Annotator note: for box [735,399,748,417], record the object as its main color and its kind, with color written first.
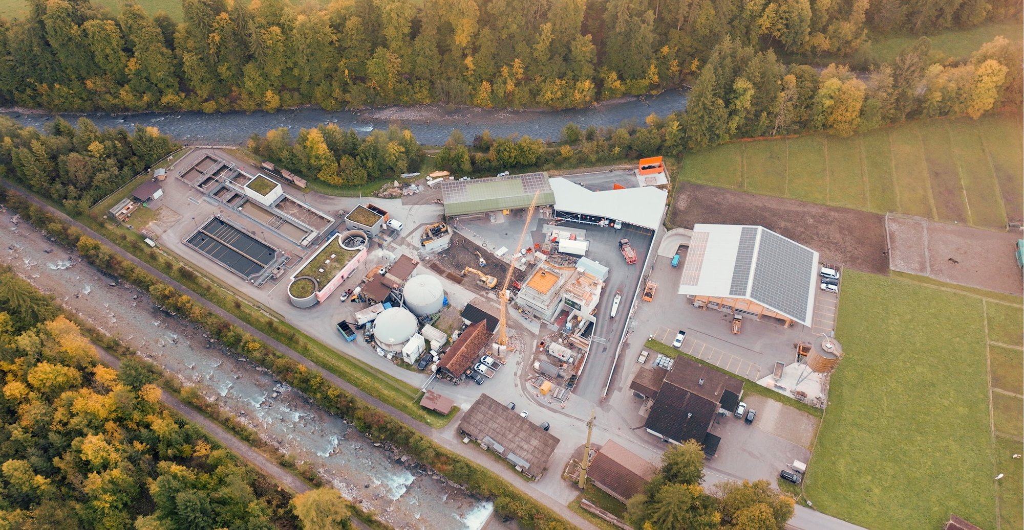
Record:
white vehicle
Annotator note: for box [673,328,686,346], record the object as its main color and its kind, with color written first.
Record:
white vehicle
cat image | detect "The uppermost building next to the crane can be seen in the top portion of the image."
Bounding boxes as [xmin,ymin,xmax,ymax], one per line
[440,171,556,225]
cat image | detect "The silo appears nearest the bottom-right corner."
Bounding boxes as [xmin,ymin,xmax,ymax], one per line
[796,330,848,384]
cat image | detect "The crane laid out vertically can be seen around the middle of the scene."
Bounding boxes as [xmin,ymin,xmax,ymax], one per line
[489,190,539,358]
